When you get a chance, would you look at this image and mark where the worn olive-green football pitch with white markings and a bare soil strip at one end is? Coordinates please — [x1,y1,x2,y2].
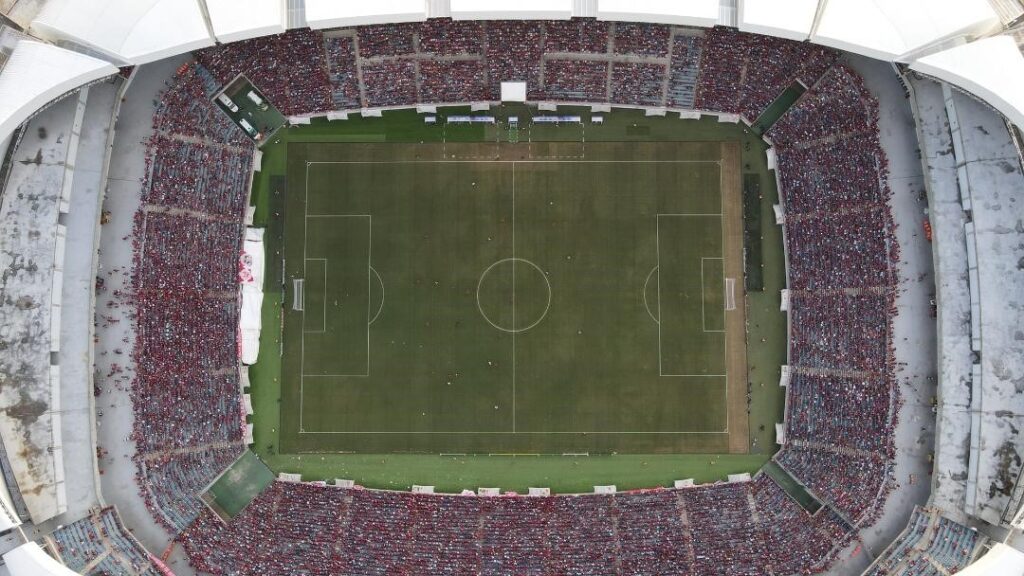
[281,123,749,453]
